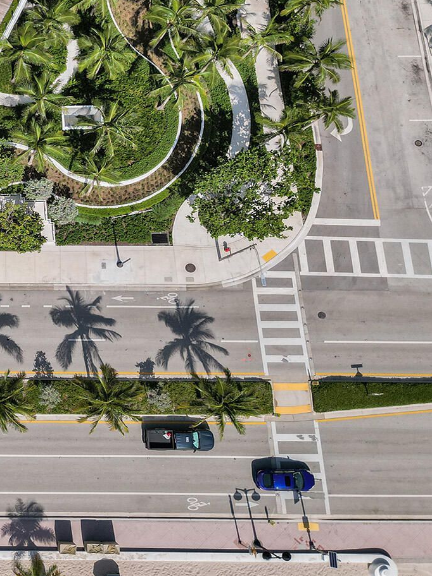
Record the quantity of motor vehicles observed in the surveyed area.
2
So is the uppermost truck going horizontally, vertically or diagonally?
horizontally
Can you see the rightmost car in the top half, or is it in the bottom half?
bottom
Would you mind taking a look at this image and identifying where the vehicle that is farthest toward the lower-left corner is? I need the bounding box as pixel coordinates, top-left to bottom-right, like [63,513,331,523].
[140,423,212,455]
